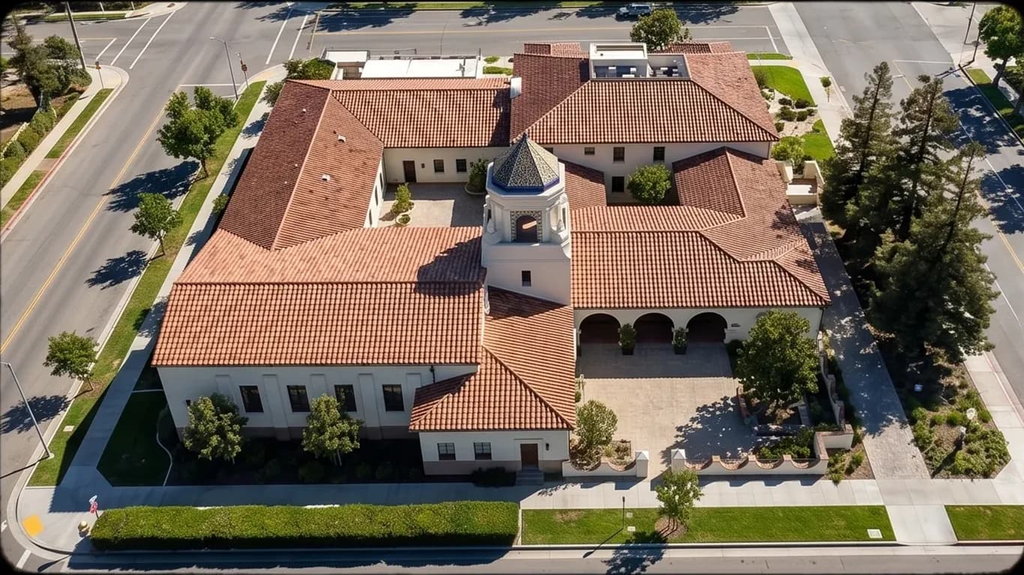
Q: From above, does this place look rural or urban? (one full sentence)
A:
The land in this view is best described as urban.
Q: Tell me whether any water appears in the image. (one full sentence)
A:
No, the picture contains no water.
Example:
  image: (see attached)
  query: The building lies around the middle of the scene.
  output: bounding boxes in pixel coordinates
[144,38,833,483]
